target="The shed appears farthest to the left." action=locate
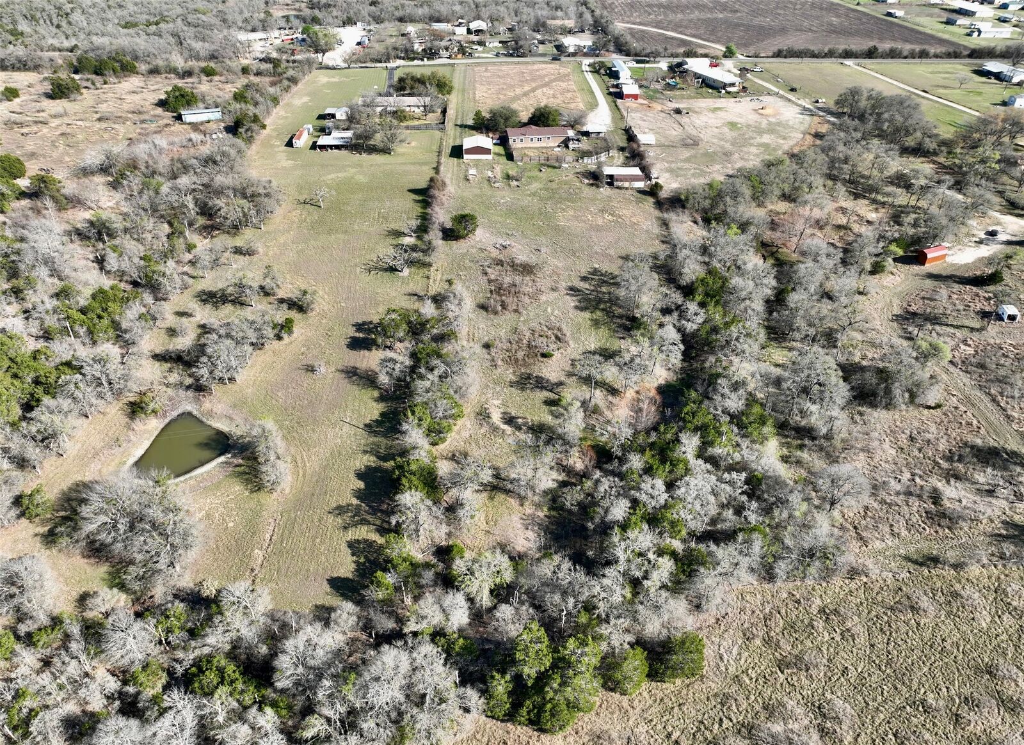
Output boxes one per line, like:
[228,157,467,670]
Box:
[179,103,222,122]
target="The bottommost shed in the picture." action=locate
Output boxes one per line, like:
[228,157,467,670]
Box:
[914,243,951,265]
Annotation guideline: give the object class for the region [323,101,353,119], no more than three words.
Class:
shed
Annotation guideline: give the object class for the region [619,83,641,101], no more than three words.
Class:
shed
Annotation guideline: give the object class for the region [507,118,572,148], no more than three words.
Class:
house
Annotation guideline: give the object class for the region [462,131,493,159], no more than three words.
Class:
building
